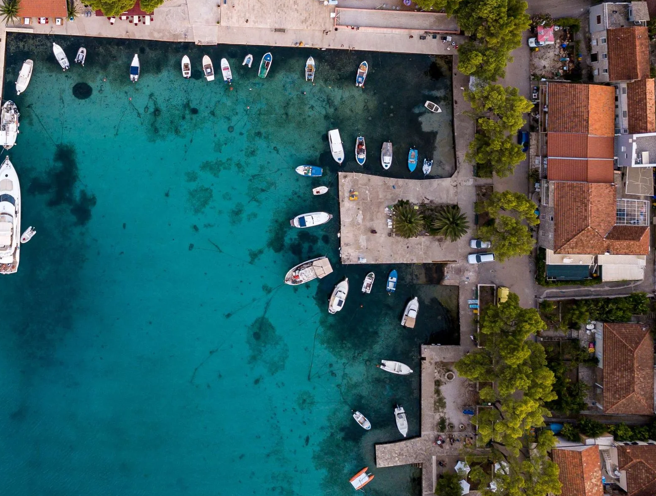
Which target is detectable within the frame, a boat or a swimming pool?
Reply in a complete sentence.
Looking from above, you can make out a boat.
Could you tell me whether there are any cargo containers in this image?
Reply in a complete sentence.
No, no cargo container is visible in the view.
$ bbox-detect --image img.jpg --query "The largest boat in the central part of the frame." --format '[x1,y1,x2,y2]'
[284,257,335,285]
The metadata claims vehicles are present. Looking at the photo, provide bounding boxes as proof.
[496,285,511,308]
[466,252,496,264]
[516,130,530,153]
[527,36,555,48]
[468,239,491,249]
